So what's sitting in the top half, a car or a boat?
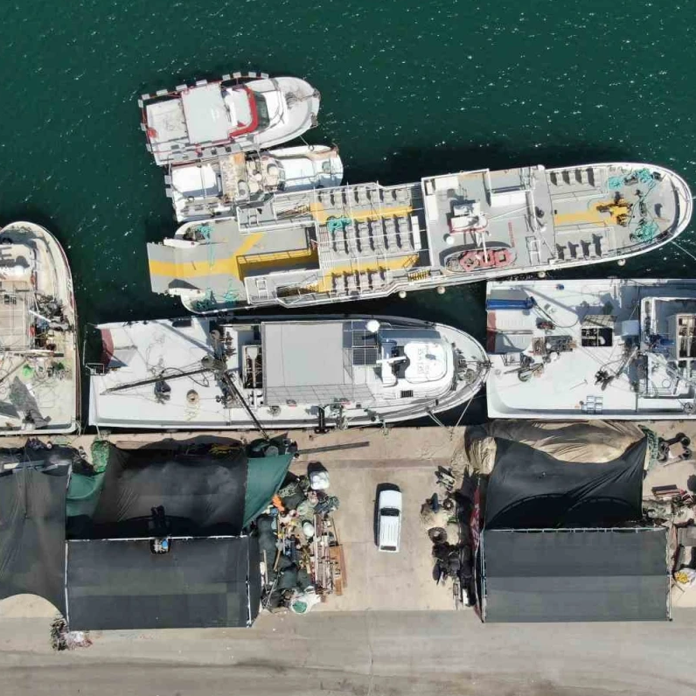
boat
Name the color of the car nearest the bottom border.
white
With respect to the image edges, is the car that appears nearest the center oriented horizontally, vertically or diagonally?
vertically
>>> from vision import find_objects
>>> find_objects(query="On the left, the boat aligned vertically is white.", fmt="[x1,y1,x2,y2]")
[0,221,89,434]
